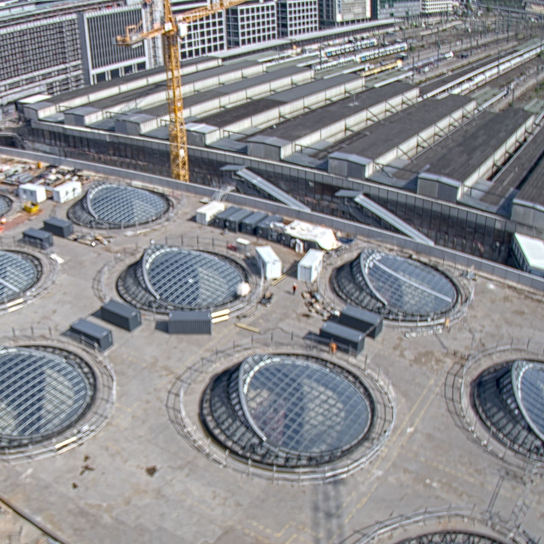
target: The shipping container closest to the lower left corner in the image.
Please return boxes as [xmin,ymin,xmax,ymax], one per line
[69,318,115,355]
